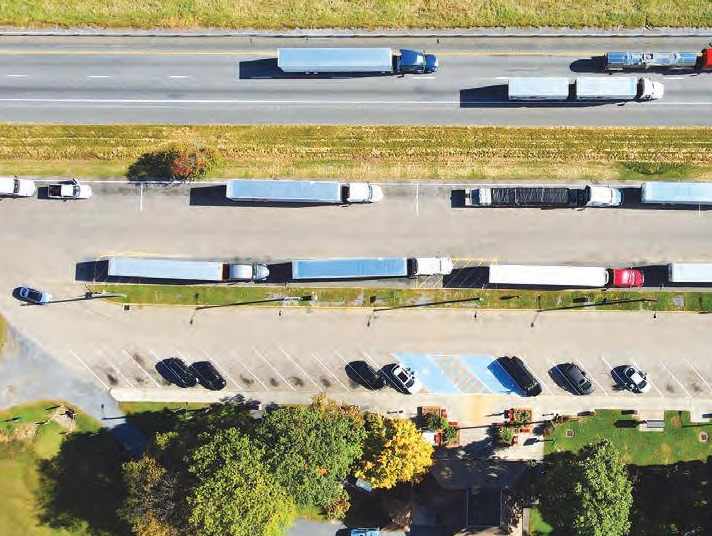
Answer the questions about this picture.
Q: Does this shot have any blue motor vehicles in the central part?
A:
Yes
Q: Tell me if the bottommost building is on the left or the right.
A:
right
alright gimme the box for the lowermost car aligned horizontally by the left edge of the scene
[20,288,54,304]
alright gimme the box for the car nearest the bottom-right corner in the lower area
[621,363,648,392]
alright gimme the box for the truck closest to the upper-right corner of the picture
[603,52,712,78]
